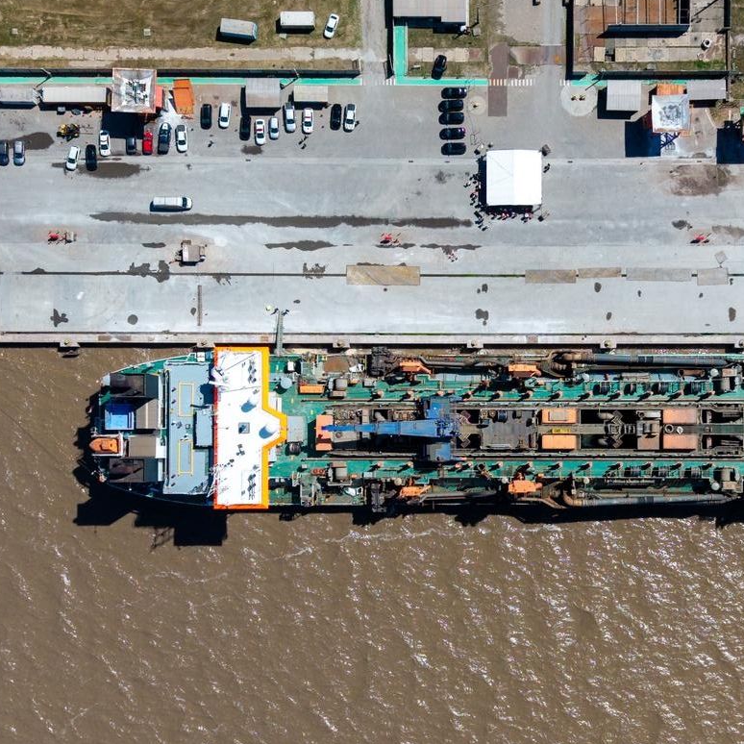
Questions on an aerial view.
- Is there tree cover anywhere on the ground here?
No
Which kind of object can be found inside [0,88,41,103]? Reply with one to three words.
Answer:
trailer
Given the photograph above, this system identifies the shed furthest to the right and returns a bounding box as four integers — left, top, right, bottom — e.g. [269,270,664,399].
[684,79,726,102]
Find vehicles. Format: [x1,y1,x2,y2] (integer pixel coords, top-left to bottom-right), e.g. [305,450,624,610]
[253,119,266,145]
[58,125,89,139]
[98,130,112,157]
[142,125,155,156]
[157,124,172,155]
[125,134,138,158]
[324,12,340,41]
[199,103,212,131]
[84,144,98,172]
[282,102,296,133]
[432,53,448,80]
[12,142,25,166]
[239,114,252,142]
[438,112,464,125]
[151,196,191,210]
[301,108,314,136]
[440,127,467,140]
[217,101,232,130]
[0,139,10,167]
[440,142,467,155]
[440,86,467,98]
[175,122,188,155]
[343,102,356,133]
[65,146,80,172]
[329,103,343,131]
[438,98,466,112]
[268,116,281,142]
